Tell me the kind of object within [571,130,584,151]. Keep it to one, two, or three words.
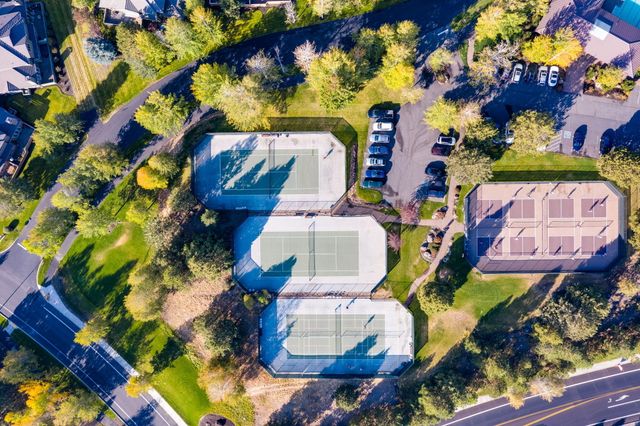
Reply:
vehicle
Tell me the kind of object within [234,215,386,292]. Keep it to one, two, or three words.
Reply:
tennis court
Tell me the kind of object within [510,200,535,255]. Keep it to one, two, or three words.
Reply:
sports court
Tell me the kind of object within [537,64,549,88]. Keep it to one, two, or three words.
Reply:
vehicle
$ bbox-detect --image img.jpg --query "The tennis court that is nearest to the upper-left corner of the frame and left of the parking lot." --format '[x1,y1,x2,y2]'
[195,134,346,210]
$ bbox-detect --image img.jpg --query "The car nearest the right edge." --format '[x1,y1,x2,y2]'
[598,132,611,152]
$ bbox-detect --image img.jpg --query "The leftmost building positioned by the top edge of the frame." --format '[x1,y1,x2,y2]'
[0,0,57,94]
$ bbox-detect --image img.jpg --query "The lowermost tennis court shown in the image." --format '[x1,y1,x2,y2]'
[261,299,413,374]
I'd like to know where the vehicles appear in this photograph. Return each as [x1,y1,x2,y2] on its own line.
[436,136,456,144]
[432,145,452,154]
[548,67,559,87]
[428,187,448,196]
[366,157,386,166]
[598,132,611,152]
[537,64,549,88]
[571,130,584,151]
[373,122,393,131]
[369,109,394,119]
[363,179,383,188]
[370,134,390,142]
[428,177,448,186]
[369,145,389,154]
[365,169,385,177]
[511,63,523,84]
